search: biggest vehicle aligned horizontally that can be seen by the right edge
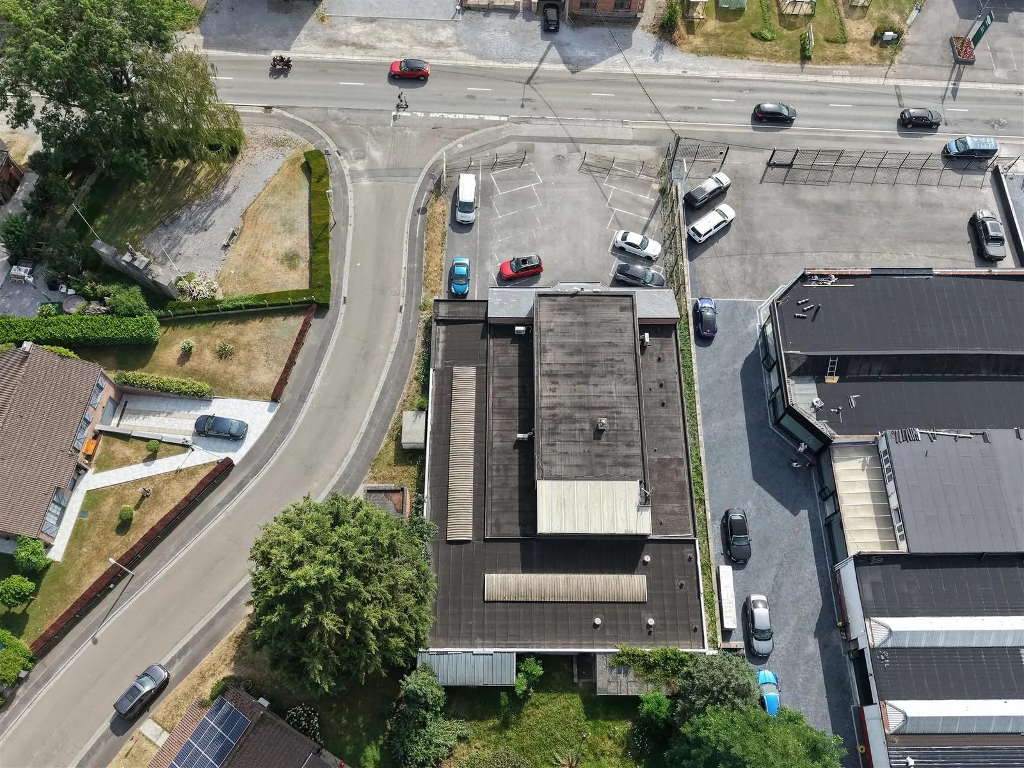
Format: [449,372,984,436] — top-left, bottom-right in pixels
[942,131,1005,160]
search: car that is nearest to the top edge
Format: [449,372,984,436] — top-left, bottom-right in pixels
[542,3,560,30]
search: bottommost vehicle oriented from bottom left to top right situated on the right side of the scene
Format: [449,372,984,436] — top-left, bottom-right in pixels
[687,205,737,244]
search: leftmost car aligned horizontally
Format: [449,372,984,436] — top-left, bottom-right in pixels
[194,413,248,441]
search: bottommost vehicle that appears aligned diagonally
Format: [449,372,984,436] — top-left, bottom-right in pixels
[115,666,168,717]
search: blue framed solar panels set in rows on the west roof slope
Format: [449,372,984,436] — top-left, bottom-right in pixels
[170,695,251,768]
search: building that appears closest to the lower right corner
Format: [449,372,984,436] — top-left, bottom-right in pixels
[834,555,1024,768]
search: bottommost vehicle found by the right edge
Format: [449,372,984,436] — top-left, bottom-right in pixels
[973,210,1005,258]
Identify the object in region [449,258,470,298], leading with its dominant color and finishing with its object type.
blue car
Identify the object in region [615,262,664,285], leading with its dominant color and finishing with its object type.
gray car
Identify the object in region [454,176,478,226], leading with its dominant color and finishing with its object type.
white vehicle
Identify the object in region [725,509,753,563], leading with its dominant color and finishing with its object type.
black car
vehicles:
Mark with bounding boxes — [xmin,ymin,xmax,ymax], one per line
[449,258,470,298]
[499,254,544,280]
[615,231,661,261]
[973,210,1005,258]
[194,413,248,441]
[542,3,560,30]
[390,57,431,80]
[682,173,732,210]
[695,298,718,337]
[899,105,942,129]
[942,131,1005,160]
[756,667,782,716]
[725,509,753,563]
[454,176,478,226]
[115,666,168,717]
[687,205,737,244]
[746,596,776,656]
[615,262,664,285]
[752,102,796,125]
